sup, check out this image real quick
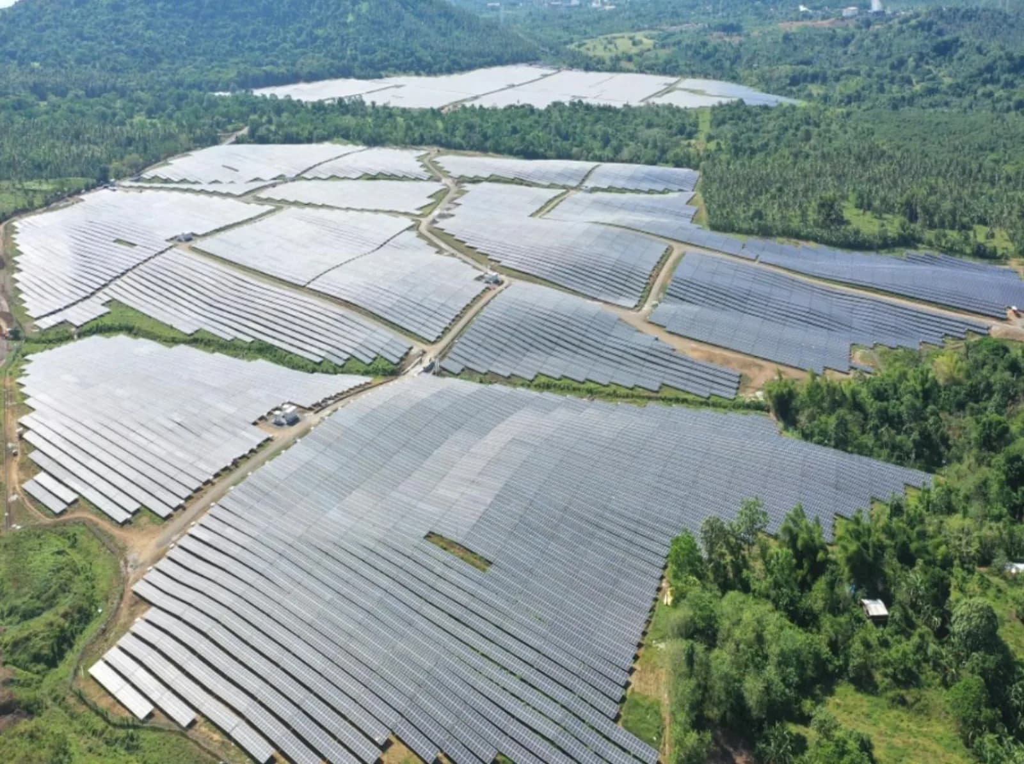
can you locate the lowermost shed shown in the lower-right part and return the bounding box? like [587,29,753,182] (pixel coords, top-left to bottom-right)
[864,603,892,624]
